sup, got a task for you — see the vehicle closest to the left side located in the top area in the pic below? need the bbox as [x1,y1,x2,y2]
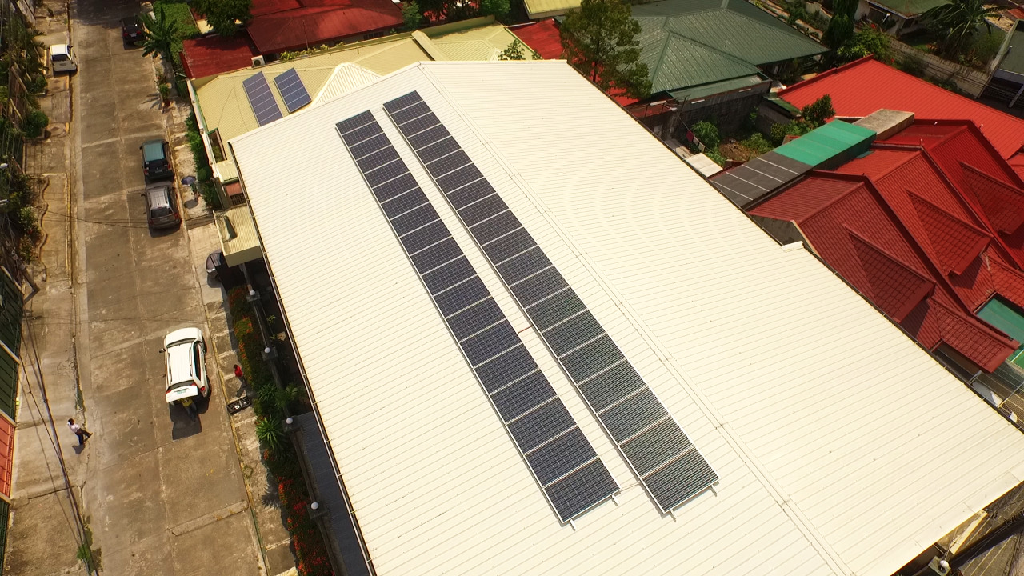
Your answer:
[48,47,81,78]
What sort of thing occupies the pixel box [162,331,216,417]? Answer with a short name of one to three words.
car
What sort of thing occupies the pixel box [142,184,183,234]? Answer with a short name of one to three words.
car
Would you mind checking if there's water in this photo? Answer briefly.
No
